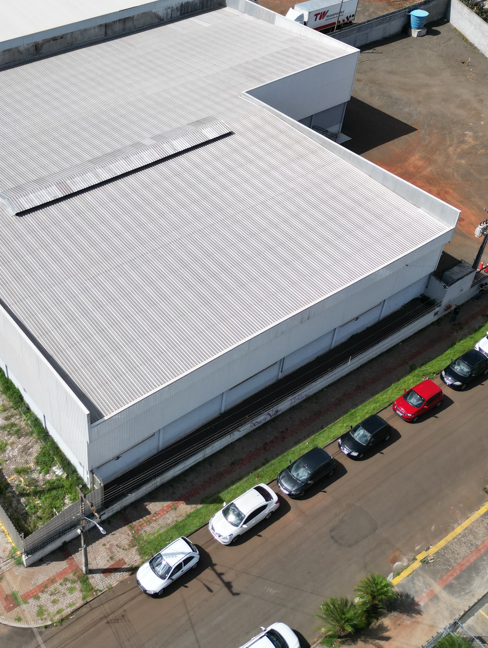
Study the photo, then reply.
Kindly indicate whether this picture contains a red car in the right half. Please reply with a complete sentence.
Yes, a red car can be seen in the right half.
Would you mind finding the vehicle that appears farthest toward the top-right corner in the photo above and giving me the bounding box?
[288,0,359,30]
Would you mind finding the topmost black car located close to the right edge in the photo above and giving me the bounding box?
[440,349,488,392]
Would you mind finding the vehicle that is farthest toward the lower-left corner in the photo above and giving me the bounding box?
[133,533,203,593]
